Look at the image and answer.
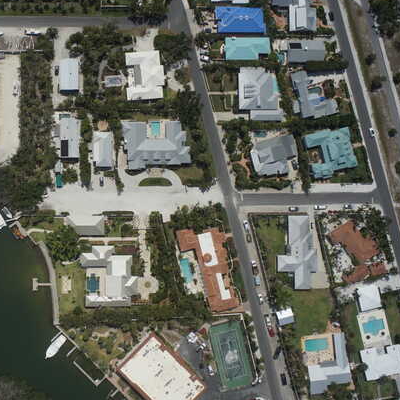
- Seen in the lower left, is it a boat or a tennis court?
boat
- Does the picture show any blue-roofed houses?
Yes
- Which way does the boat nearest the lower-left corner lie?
at an angle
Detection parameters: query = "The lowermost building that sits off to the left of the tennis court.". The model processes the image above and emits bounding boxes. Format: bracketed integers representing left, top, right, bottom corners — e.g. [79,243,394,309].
[117,332,204,400]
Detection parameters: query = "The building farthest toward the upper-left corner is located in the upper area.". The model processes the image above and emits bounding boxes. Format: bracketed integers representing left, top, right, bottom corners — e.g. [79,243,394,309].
[59,58,79,90]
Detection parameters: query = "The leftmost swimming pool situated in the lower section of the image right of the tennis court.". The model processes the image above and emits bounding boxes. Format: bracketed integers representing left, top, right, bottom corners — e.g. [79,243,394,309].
[305,337,330,352]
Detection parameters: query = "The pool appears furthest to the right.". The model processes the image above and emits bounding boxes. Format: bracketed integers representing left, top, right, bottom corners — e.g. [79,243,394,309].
[362,317,386,335]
